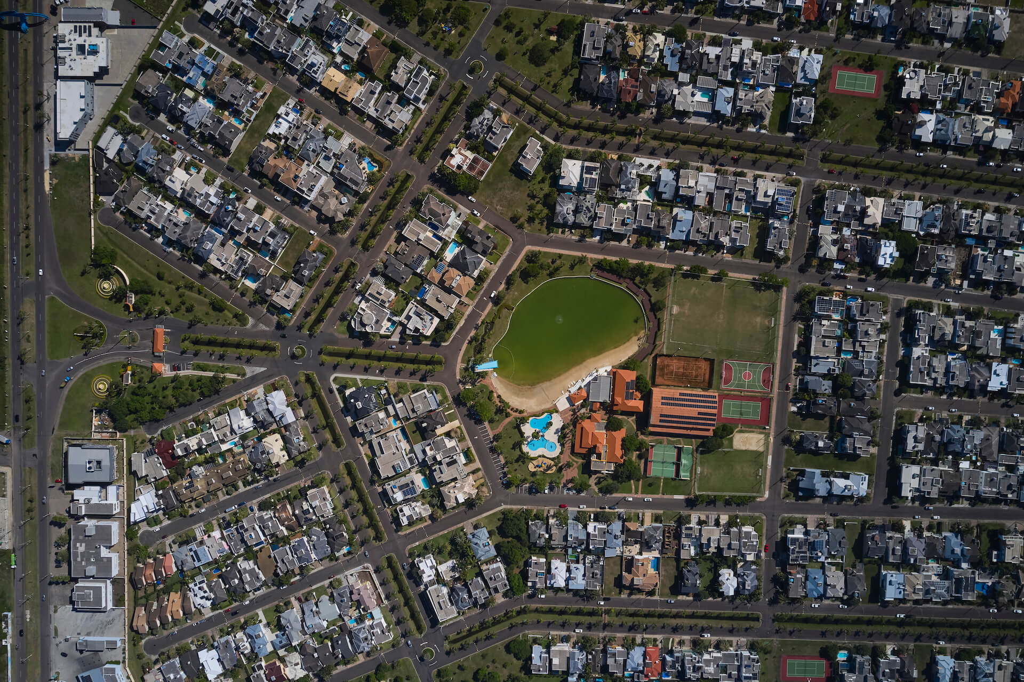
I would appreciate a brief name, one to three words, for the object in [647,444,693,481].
sports court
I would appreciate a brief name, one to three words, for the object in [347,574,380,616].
house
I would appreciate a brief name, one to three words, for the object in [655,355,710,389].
tennis court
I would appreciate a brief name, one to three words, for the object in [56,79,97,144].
building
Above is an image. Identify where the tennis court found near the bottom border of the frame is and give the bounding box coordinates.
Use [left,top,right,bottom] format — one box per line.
[782,655,831,682]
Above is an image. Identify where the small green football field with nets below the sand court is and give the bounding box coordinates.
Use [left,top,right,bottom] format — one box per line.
[698,450,764,493]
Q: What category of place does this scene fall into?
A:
residential area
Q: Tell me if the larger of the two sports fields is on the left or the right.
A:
right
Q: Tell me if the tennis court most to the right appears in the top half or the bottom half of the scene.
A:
top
